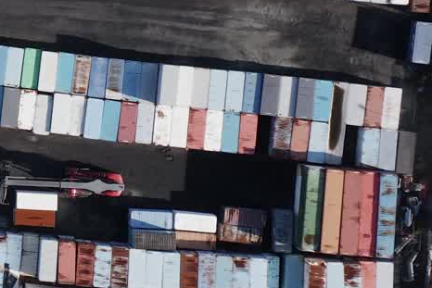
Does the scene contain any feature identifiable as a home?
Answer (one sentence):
No, no home is visible in the view.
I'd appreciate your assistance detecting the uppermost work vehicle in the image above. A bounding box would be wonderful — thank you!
[0,158,125,202]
